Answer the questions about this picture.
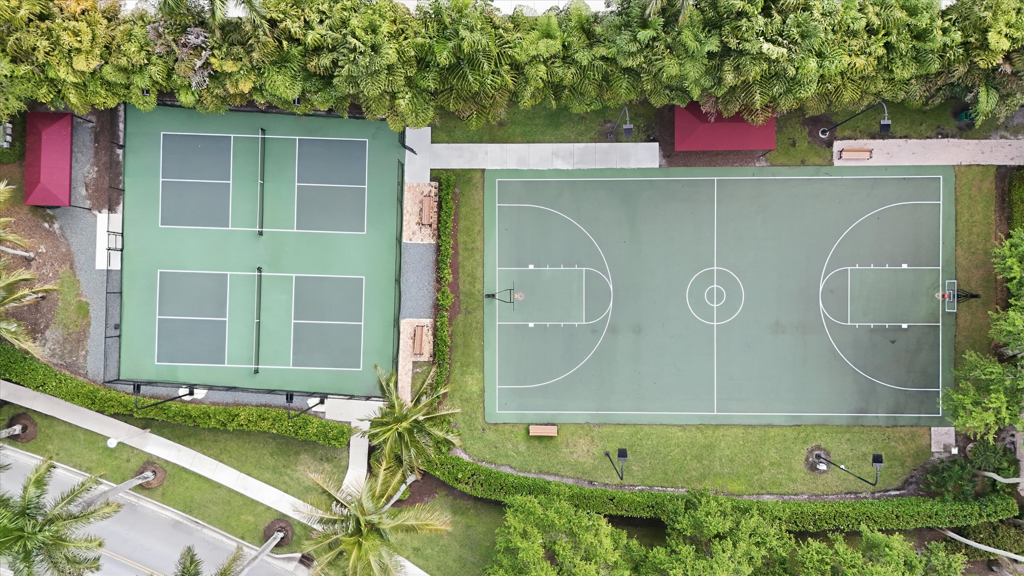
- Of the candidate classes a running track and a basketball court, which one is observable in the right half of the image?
basketball court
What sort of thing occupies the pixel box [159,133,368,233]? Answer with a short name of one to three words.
sports court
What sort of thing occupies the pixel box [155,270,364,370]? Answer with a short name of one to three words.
sports court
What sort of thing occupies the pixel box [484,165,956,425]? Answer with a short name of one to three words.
basketball court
